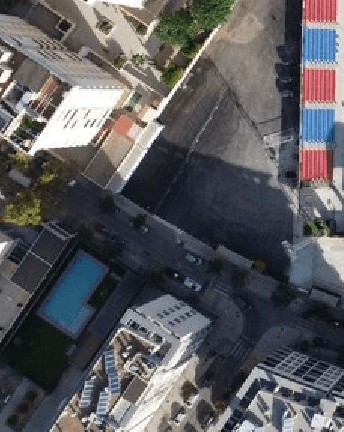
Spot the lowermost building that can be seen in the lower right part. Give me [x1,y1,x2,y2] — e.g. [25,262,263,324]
[217,345,344,432]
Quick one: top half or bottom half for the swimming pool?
bottom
